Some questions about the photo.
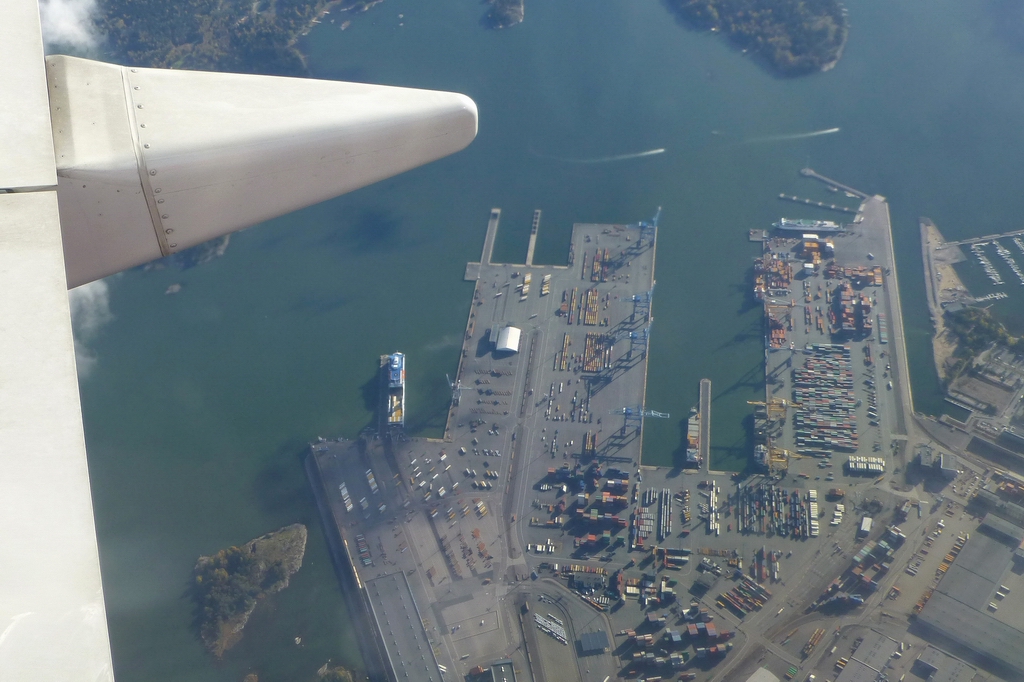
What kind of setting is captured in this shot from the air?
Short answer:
port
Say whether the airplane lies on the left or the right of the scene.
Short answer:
left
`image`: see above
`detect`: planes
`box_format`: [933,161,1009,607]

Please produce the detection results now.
[0,0,478,682]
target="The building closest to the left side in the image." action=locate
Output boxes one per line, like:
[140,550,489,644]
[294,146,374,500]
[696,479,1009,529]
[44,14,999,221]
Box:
[365,571,443,682]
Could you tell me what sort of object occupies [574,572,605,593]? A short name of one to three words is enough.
building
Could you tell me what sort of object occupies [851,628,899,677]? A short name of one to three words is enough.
building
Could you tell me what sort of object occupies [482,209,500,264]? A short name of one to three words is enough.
pier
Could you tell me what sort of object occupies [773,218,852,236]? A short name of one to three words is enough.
ship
